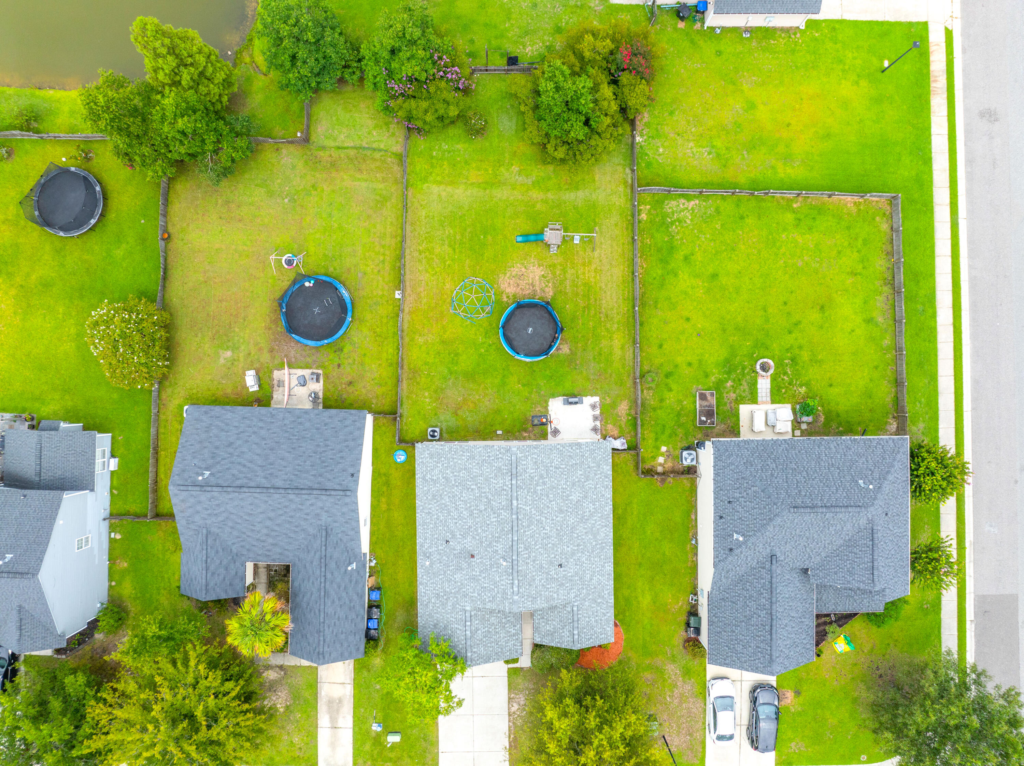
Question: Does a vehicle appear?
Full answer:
Yes, the image includes a vehicle.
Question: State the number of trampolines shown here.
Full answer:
The photo contains 3 trampolines.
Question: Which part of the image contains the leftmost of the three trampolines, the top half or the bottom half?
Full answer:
The top half of the photo is where the leftmost of the three trampolines is.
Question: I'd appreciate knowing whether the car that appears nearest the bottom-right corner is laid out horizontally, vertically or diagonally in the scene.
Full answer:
Seen from above, the car that appears nearest the bottom-right corner lies vertically.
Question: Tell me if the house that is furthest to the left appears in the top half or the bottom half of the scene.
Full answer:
The house that is furthest to the left is in the bottom half of the image.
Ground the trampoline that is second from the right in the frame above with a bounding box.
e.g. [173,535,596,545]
[273,273,356,348]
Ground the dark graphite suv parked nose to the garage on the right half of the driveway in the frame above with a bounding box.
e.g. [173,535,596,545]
[745,680,783,753]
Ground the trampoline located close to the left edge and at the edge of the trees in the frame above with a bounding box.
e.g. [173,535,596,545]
[19,160,111,239]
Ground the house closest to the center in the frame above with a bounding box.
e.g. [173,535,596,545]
[415,439,614,665]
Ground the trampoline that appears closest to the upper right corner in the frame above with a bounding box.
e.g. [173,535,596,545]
[496,297,566,362]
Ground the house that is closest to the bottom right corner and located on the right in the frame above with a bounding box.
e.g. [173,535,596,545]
[696,434,911,677]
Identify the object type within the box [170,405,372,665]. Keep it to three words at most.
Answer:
house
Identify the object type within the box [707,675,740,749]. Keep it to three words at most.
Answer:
car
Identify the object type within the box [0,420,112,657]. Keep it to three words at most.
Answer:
house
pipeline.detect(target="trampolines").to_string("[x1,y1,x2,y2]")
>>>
[273,273,356,348]
[19,160,111,239]
[496,297,566,362]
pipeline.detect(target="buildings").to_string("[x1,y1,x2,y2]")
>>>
[696,434,911,677]
[170,405,372,665]
[415,439,614,665]
[0,420,112,657]
[660,0,833,35]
